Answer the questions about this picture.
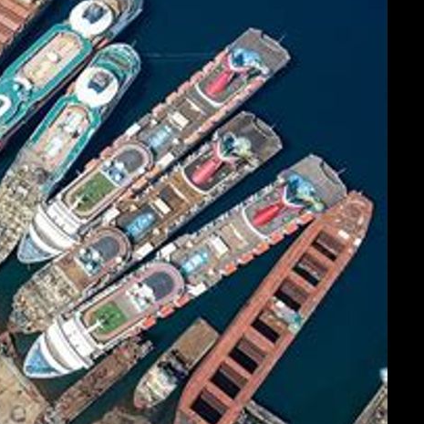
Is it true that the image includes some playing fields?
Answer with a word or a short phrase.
No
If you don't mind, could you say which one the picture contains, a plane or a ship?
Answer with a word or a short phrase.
ship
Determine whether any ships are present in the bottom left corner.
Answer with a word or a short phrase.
Yes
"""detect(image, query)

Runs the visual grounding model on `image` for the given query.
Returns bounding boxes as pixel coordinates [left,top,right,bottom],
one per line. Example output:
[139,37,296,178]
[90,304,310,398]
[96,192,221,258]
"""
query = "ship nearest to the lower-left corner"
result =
[34,337,154,424]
